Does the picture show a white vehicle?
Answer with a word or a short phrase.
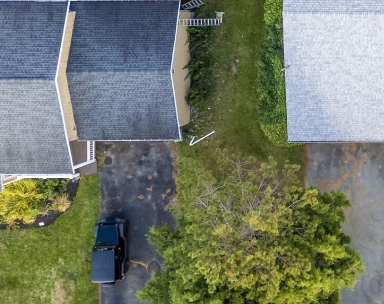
No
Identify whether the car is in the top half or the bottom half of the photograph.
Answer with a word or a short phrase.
bottom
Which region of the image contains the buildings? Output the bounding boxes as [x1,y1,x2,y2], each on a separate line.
[282,0,384,143]
[0,0,192,191]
